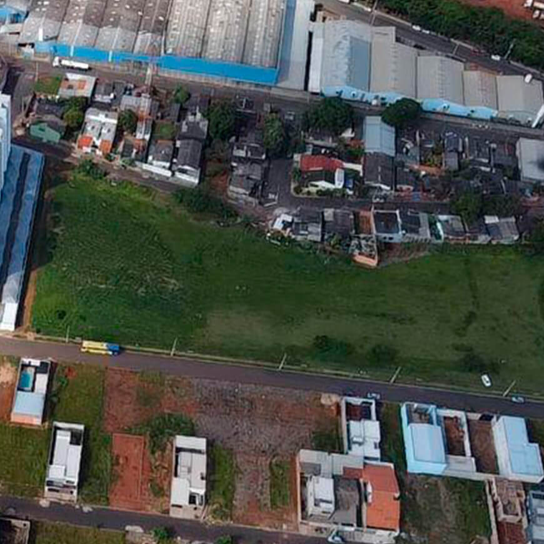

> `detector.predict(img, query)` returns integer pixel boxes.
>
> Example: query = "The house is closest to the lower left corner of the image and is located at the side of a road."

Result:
[45,421,84,504]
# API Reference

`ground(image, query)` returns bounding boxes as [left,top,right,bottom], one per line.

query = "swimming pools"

[21,369,34,387]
